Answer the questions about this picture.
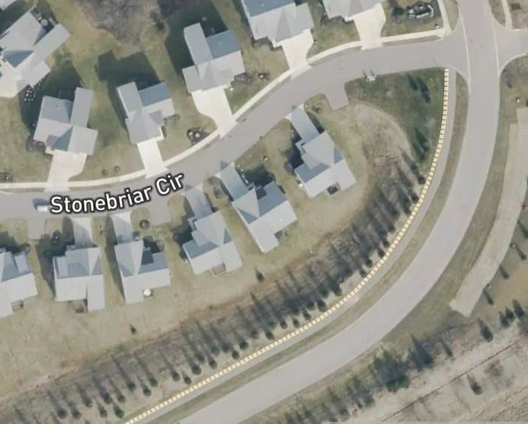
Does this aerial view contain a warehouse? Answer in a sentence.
No, the picture doesn't show any warehouse.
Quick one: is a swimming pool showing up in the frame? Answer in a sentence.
No, I can't see a single swimming pool in this photo.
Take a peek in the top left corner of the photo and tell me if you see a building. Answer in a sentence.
Yes, the scene does show a building in the top left corner of the photo.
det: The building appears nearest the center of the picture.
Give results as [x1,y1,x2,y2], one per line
[229,181,297,252]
